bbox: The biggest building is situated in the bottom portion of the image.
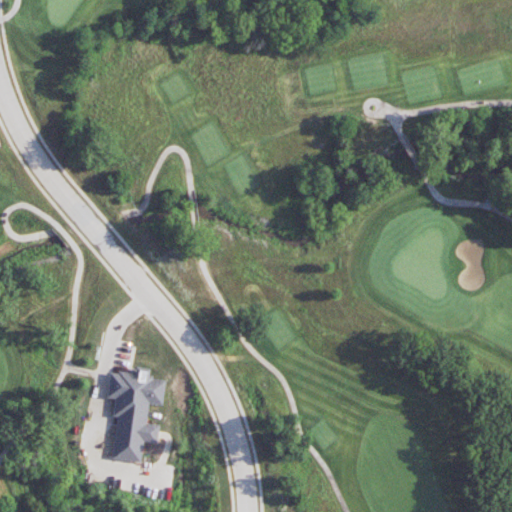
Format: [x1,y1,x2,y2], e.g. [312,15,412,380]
[108,367,166,462]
